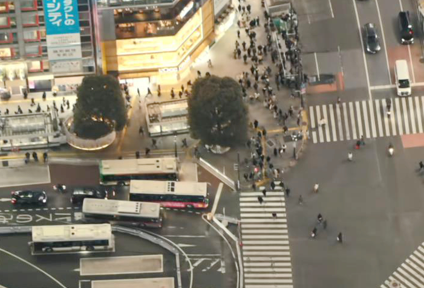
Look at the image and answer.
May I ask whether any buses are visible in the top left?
No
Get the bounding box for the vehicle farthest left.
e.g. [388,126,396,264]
[11,189,48,206]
